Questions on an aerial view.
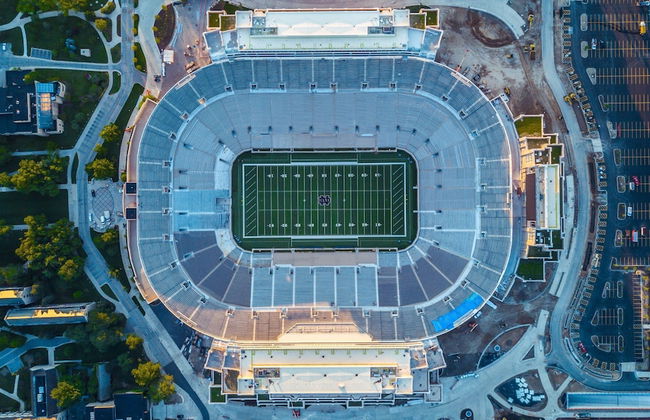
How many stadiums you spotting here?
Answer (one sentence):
My tally gives 1 stadium in this photo.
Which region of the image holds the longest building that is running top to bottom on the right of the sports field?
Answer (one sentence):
Look in the right portion of the view to spot the longest building that is running top to bottom on the right of the sports field.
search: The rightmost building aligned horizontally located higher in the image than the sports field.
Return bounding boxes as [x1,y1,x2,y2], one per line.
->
[204,8,442,64]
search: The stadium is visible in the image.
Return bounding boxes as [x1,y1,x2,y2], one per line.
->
[135,56,514,343]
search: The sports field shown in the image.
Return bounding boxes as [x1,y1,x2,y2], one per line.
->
[233,151,416,250]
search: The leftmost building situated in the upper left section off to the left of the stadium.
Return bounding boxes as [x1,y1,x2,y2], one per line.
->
[0,71,43,133]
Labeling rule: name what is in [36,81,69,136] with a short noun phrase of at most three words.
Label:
building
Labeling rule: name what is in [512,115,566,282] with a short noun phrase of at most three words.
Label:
building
